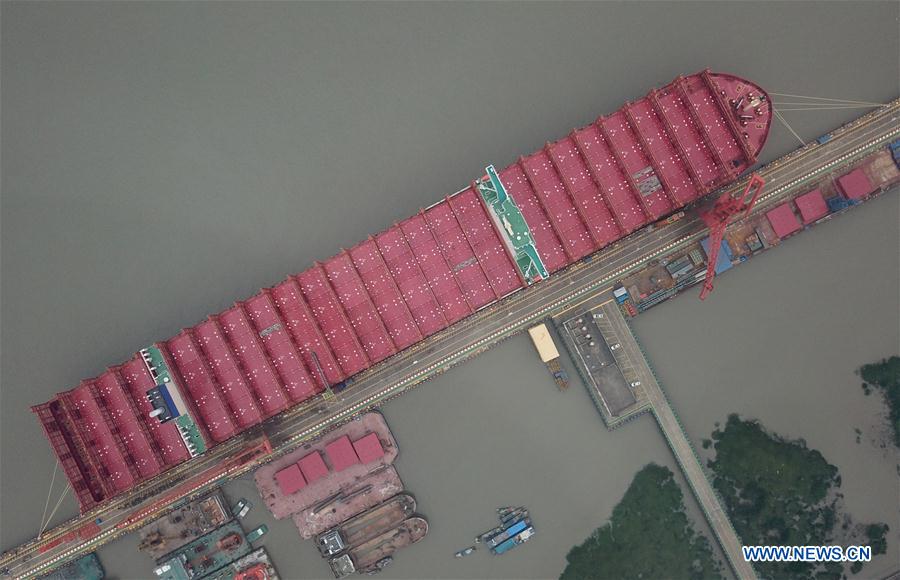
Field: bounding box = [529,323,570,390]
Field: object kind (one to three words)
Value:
boat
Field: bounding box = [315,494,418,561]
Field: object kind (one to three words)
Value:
ship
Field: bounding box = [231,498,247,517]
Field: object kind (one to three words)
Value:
boat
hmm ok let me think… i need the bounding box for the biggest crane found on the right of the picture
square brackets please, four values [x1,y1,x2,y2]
[691,174,766,301]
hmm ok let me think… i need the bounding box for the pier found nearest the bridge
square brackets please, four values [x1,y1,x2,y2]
[551,287,670,431]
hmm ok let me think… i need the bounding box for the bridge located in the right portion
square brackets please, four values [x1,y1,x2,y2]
[650,398,762,580]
